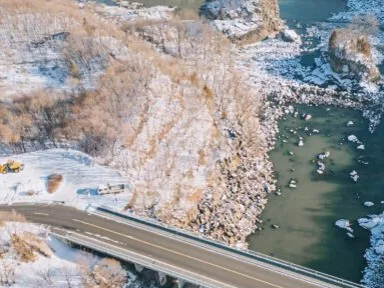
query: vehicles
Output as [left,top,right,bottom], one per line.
[98,180,124,194]
[0,157,28,174]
